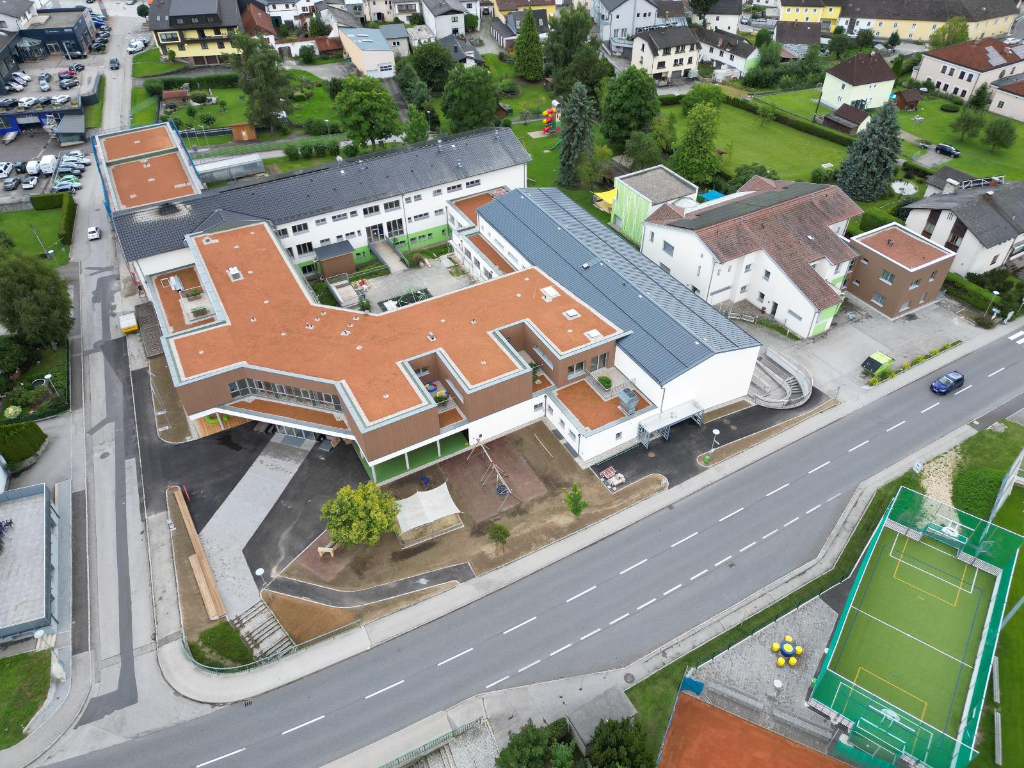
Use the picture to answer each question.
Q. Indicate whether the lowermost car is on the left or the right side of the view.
right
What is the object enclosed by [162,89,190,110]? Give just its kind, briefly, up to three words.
shed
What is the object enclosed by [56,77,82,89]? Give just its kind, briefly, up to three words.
vehicle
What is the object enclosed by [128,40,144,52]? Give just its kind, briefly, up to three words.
vehicle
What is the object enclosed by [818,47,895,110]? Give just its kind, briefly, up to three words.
house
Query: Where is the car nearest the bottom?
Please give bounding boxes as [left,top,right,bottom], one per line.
[928,367,967,395]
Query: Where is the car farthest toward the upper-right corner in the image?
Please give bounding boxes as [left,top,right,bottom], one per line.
[934,142,962,158]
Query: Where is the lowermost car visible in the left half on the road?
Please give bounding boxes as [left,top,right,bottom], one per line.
[87,226,103,242]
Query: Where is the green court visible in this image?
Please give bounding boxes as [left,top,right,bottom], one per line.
[804,488,1024,768]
